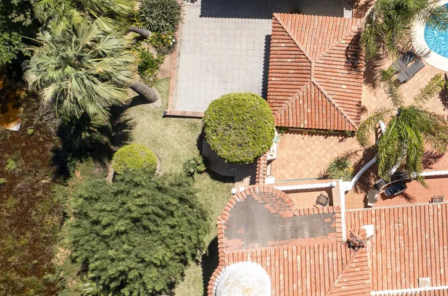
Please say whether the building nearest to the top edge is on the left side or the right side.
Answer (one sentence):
The building nearest to the top edge sits on the right side.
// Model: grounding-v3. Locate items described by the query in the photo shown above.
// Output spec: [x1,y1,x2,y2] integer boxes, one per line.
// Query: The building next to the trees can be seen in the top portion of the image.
[264,10,366,134]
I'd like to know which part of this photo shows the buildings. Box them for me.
[206,185,448,296]
[264,10,366,134]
